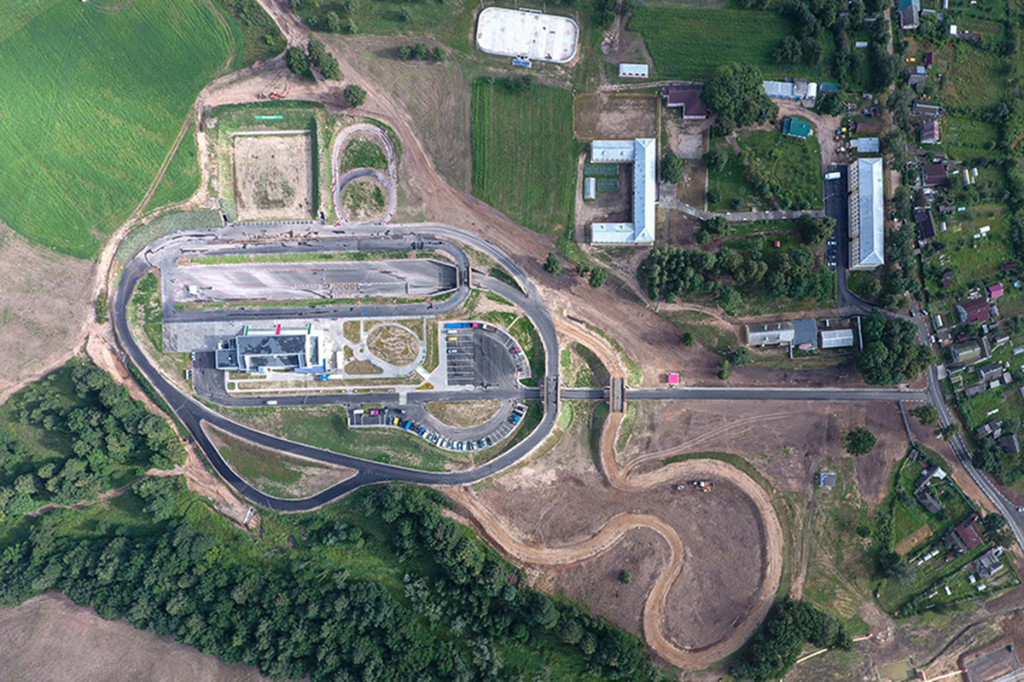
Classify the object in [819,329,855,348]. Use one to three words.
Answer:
barn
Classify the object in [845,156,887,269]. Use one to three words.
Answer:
building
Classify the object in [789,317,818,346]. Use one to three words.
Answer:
building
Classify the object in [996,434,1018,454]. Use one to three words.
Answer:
house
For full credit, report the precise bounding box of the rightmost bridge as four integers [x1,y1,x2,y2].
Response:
[607,377,627,414]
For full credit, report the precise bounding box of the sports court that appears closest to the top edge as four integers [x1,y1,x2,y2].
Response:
[477,5,578,64]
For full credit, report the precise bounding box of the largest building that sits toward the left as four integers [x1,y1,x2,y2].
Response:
[215,325,328,373]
